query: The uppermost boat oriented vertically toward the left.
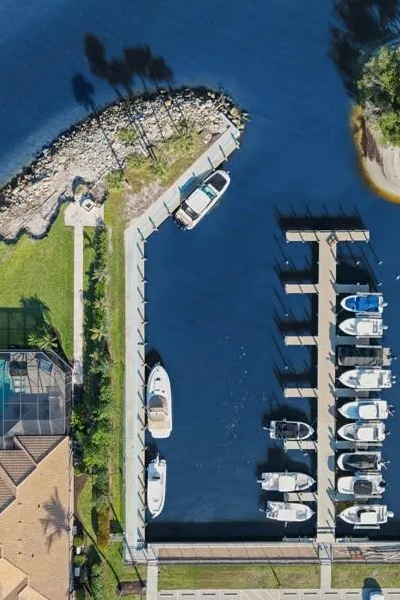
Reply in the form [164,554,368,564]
[147,369,172,441]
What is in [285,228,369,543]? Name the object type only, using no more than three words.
pier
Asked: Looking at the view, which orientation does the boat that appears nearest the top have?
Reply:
diagonally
